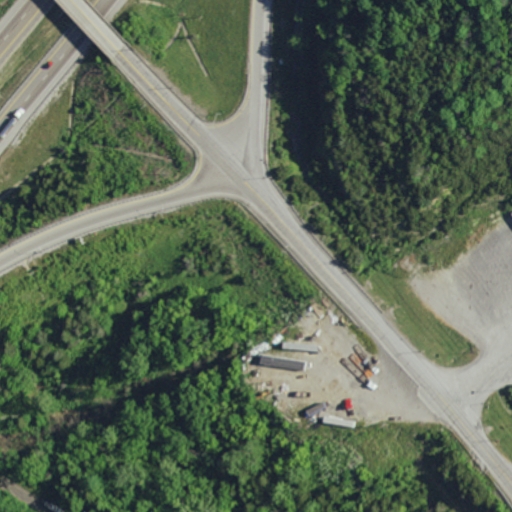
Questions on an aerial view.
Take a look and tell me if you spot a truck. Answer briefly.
Yes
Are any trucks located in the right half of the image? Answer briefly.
Yes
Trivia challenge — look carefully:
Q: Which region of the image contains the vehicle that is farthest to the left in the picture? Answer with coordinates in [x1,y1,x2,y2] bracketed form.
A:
[0,108,24,144]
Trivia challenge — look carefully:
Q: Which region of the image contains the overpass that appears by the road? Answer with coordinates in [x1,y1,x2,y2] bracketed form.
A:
[55,0,128,60]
